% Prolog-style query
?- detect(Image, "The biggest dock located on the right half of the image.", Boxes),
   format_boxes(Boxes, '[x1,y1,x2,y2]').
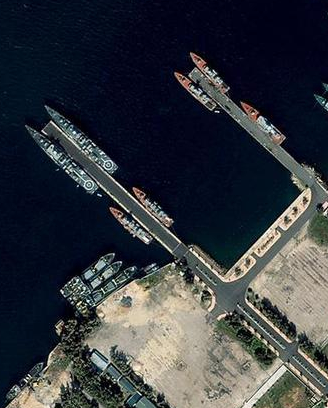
[188,67,304,177]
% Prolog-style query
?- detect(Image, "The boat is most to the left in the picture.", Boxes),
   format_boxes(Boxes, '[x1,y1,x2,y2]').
[4,384,20,400]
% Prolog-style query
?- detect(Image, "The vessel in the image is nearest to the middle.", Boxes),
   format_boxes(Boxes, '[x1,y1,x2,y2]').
[134,187,176,228]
